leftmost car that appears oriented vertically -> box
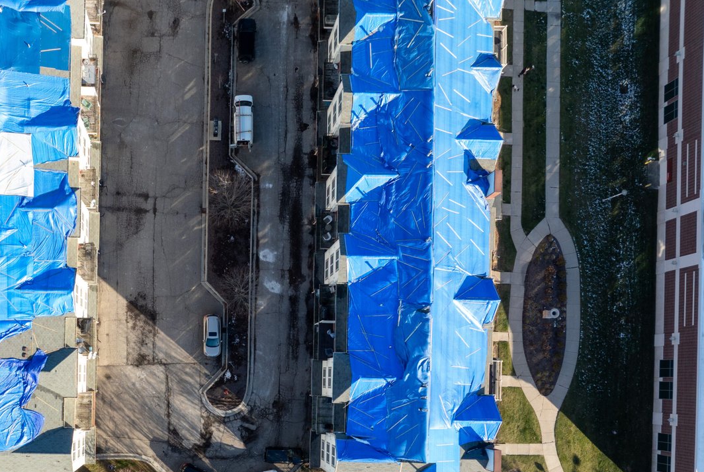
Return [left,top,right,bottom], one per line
[202,313,223,356]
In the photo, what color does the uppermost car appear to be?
black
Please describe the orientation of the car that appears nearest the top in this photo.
from top to bottom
